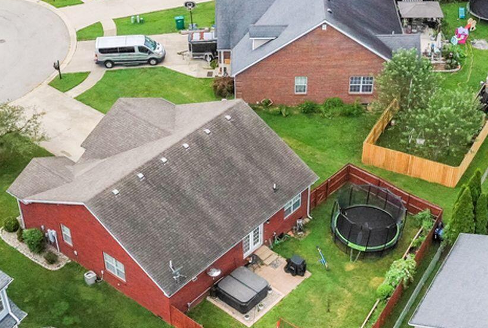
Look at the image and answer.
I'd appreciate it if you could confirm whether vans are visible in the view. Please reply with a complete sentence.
Yes, a van appears in the view.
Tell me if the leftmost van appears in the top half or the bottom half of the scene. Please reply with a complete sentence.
You can find the leftmost van in the top half.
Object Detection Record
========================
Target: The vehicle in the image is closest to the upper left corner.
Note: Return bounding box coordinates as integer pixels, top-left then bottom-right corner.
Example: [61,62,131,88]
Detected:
[93,38,165,72]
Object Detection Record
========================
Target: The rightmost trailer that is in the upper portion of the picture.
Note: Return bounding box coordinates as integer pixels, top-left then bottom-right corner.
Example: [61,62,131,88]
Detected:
[174,37,222,62]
